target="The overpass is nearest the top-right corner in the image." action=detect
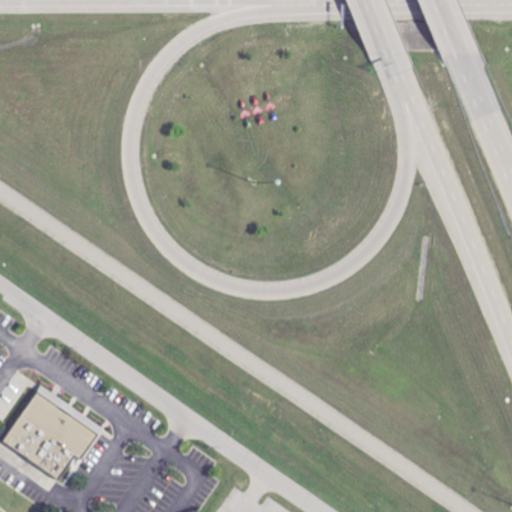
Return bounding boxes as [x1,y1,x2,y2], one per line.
[418,0,486,66]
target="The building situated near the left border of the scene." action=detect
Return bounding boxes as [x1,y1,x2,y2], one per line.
[0,393,98,480]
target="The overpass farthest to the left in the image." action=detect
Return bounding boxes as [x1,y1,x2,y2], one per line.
[346,0,412,66]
